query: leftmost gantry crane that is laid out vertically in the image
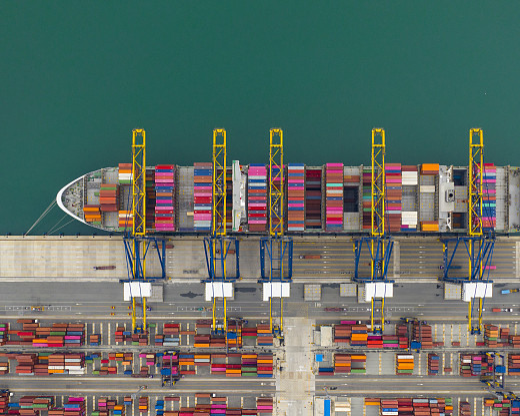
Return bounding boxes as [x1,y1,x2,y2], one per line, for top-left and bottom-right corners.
[123,128,169,333]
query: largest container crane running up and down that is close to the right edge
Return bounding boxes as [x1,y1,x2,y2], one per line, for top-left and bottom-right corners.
[440,127,497,334]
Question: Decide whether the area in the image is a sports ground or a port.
port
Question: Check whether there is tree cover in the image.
No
